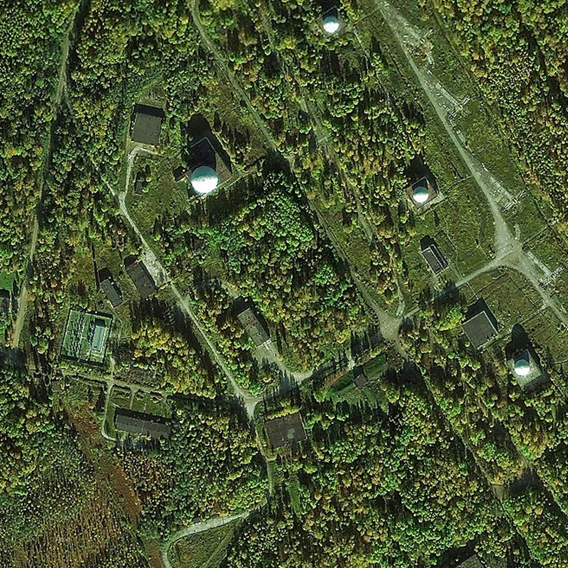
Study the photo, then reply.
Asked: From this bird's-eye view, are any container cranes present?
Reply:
No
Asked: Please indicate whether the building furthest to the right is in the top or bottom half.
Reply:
bottom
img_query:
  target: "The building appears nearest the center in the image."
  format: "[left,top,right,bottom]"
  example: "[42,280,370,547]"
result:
[237,307,270,346]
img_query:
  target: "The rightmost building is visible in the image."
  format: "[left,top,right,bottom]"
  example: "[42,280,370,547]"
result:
[507,349,543,389]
